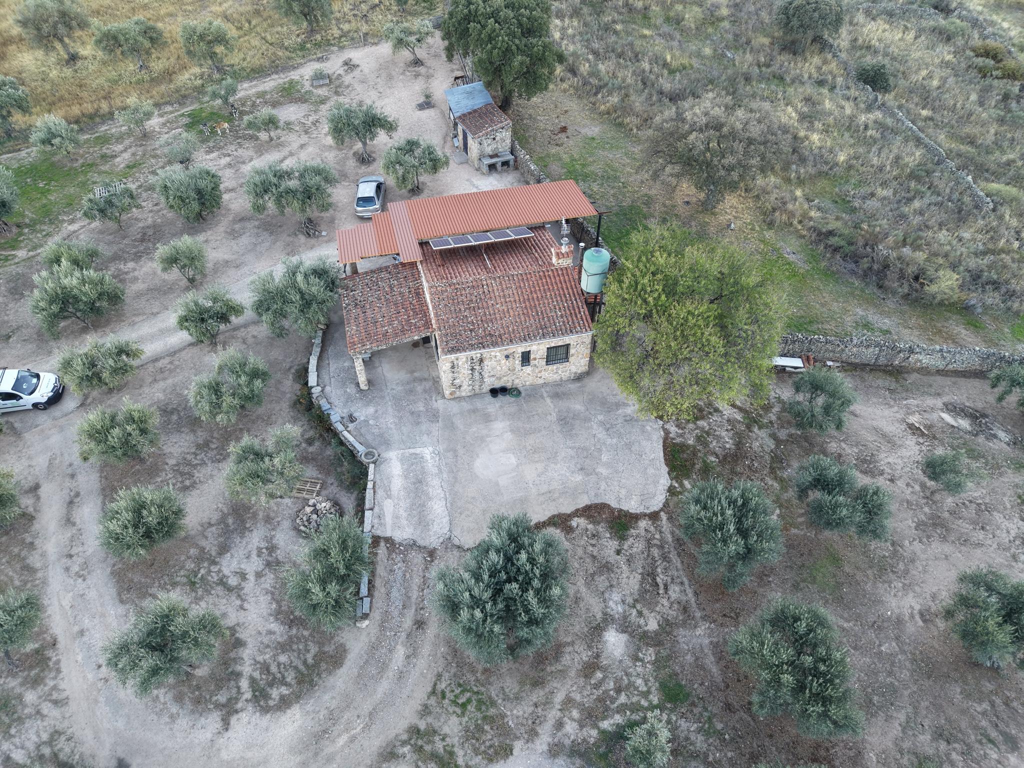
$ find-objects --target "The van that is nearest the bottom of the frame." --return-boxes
[0,365,63,413]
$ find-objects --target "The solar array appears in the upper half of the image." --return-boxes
[431,227,535,271]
